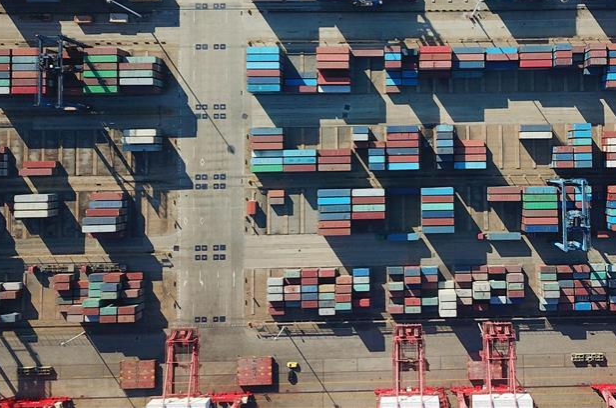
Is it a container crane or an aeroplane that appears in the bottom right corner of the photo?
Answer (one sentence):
Visible in the bottom right corner of the photo is a container crane.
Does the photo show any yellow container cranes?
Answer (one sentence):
No, I can't see a single yellow container crane in this photo.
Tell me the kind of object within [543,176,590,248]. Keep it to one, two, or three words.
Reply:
container crane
